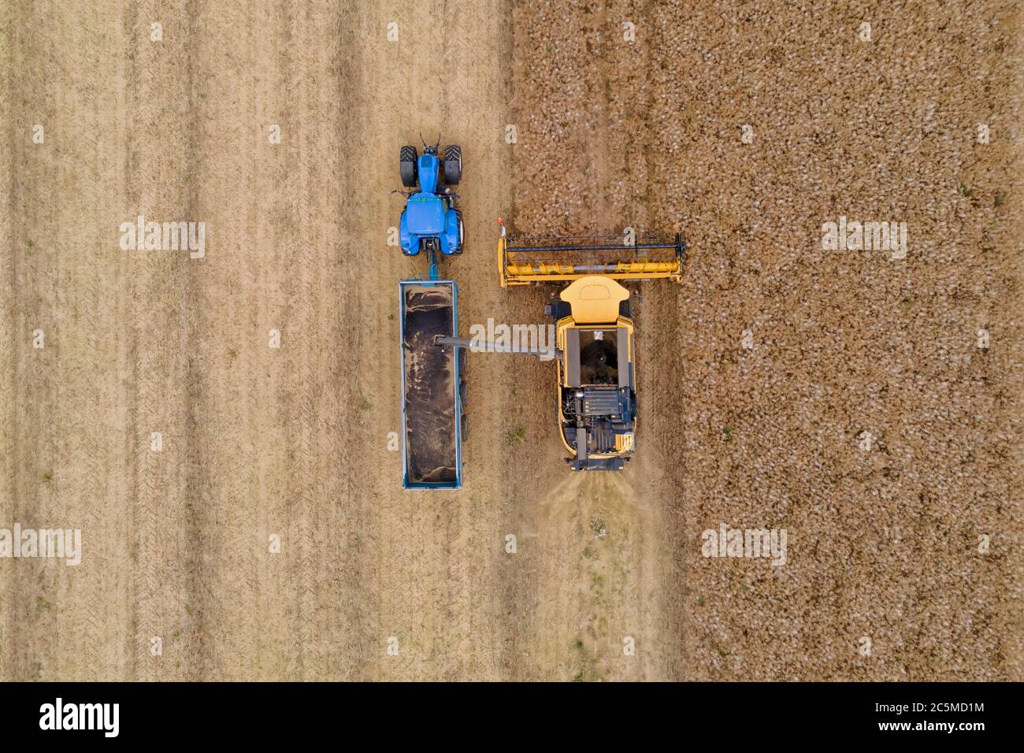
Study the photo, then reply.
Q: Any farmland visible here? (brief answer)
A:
Yes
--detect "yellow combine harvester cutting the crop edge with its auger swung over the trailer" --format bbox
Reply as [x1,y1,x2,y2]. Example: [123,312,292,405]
[435,218,684,471]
